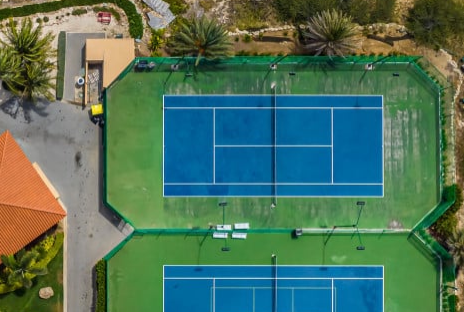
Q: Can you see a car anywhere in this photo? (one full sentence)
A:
No, the photo shows no car.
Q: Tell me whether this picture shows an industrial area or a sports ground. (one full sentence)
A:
It's a sports ground.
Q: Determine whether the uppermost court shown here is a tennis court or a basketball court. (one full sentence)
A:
I'd identify the uppermost court as a tennis court.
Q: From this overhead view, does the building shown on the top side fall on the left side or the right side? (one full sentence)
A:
It is on the left.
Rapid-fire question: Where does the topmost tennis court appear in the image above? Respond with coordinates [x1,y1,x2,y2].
[108,64,440,229]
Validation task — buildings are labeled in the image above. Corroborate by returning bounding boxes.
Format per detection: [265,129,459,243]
[84,38,135,94]
[0,131,67,263]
